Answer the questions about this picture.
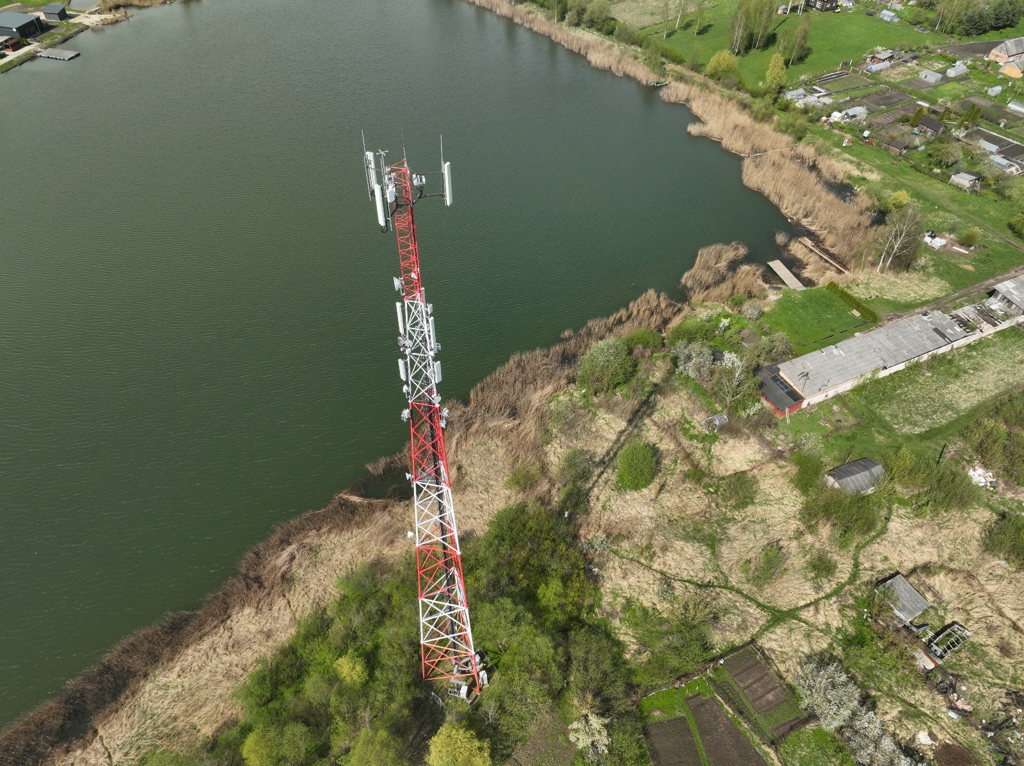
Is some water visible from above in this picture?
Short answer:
Yes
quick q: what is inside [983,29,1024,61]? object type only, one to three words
house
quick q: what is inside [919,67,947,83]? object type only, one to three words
greenhouse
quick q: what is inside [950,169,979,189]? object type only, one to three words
shed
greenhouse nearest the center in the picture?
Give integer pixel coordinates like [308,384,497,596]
[701,410,729,430]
